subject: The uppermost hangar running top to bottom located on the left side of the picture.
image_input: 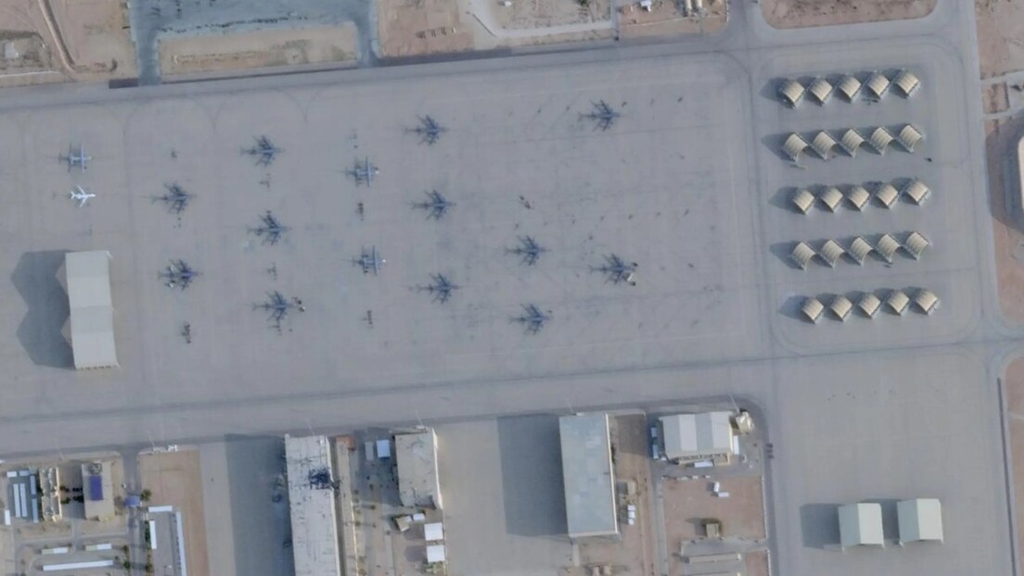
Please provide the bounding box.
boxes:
[66,251,123,373]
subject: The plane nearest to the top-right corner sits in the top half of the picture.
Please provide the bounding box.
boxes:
[586,100,621,131]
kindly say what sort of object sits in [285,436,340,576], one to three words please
hangar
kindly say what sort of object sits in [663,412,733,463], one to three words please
building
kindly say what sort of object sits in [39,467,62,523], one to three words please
building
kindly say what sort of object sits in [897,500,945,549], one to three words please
hangar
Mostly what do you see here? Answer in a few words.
paved ground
